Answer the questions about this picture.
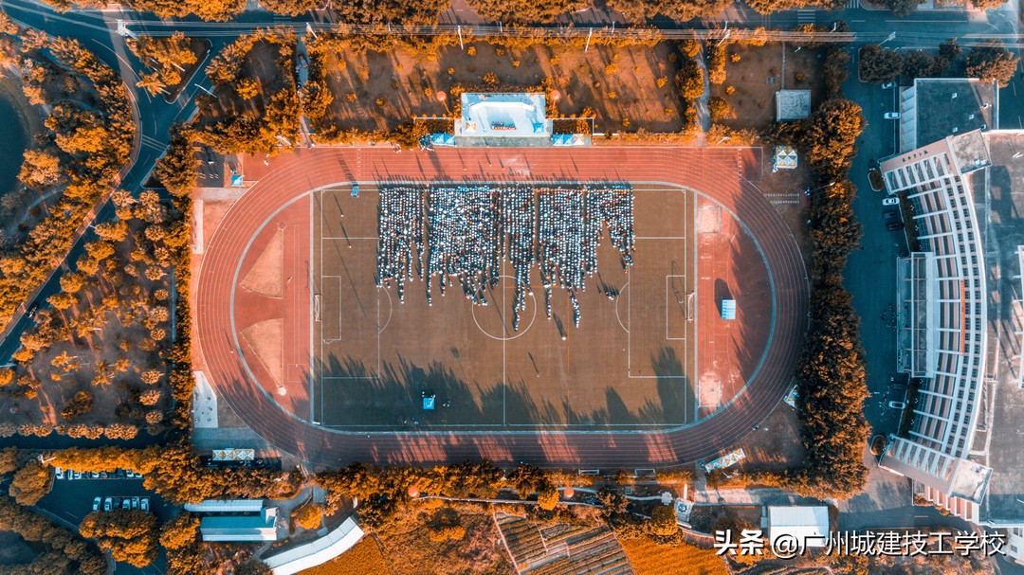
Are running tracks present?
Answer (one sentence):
Yes, you can see a running track in this photo.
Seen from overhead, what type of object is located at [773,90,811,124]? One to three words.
shed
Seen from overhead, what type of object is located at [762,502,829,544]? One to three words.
shed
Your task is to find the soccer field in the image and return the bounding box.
[310,185,698,430]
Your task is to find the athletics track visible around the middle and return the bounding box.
[196,147,811,466]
